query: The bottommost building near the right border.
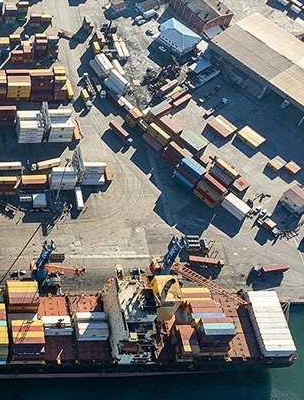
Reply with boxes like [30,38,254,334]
[278,184,304,219]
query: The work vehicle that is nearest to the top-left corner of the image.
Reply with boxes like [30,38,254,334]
[48,15,74,39]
